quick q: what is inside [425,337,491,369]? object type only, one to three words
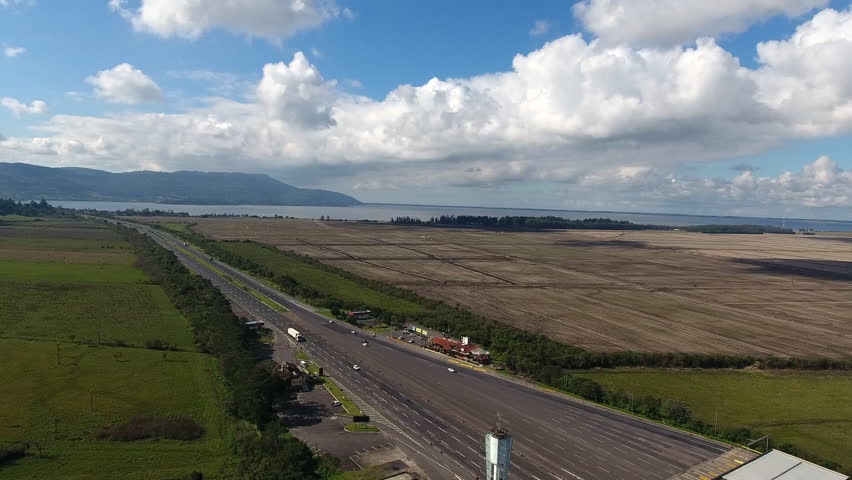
building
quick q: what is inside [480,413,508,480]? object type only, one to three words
water tower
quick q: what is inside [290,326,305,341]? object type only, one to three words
vehicle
